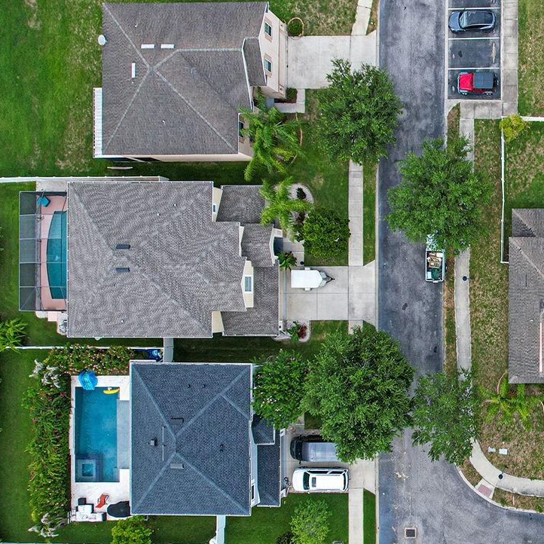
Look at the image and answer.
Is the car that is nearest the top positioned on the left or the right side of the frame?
right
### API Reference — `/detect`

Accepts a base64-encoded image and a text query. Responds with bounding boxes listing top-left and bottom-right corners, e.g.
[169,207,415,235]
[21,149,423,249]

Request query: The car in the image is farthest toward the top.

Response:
[449,9,497,34]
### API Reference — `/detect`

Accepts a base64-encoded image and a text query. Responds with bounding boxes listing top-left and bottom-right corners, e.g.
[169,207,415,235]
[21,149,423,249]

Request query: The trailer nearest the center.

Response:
[287,268,338,291]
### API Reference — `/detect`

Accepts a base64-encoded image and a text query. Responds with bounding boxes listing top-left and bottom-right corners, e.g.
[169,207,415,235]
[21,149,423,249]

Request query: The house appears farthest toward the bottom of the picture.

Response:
[130,361,286,516]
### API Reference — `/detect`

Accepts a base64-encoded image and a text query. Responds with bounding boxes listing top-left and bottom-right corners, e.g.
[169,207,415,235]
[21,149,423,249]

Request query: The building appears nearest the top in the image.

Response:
[102,1,287,160]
